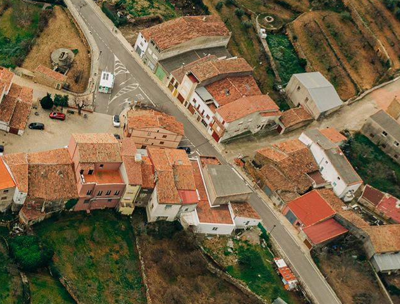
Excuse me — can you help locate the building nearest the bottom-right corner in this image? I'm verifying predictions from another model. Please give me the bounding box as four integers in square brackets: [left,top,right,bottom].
[348,222,400,280]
